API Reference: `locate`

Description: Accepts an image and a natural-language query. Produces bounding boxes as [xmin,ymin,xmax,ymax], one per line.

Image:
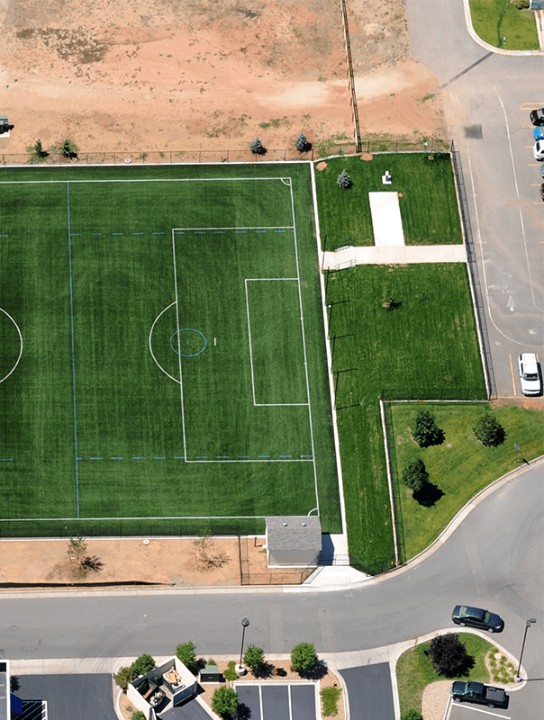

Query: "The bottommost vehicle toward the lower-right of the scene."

[449,681,512,712]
